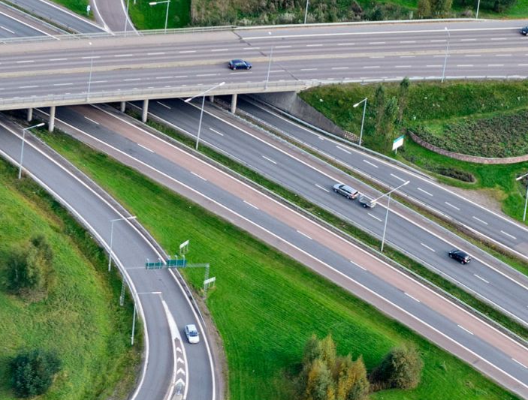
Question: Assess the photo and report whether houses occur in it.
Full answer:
No, I can see no house in this picture.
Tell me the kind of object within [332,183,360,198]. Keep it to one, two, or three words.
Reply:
car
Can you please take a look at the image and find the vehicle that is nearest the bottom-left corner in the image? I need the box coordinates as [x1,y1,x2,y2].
[185,324,199,344]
